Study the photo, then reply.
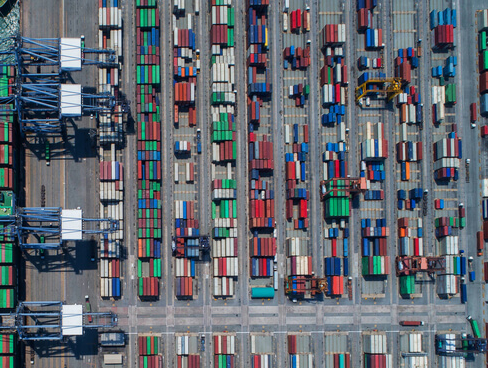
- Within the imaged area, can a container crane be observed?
Yes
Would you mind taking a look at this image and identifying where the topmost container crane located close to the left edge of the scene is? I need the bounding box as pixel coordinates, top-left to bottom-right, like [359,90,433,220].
[0,34,115,101]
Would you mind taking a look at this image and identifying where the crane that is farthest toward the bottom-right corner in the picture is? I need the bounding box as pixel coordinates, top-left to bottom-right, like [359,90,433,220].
[433,333,488,355]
